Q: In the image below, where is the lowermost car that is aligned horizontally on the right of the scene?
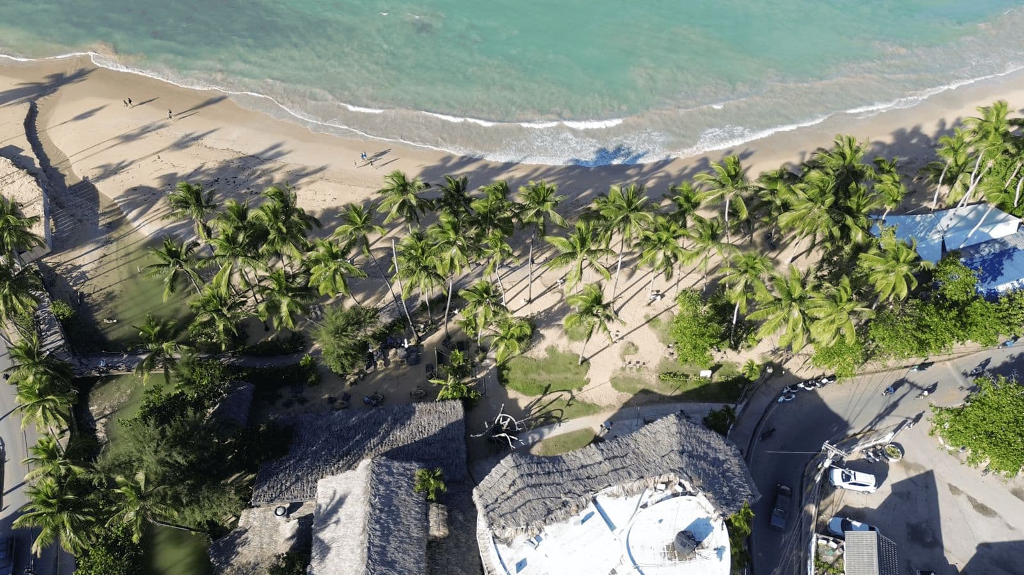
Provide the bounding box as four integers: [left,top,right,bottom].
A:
[825,512,881,537]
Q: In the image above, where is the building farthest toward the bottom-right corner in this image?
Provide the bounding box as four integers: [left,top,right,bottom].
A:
[828,530,898,575]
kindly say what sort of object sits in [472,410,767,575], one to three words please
building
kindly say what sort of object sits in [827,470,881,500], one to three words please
car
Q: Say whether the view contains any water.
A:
Yes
